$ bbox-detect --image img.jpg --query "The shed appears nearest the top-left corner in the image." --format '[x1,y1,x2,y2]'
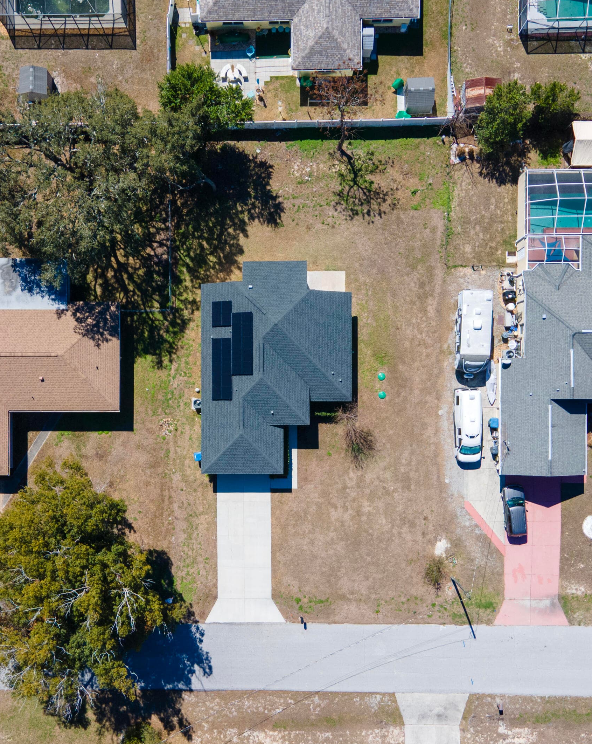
[19,64,51,100]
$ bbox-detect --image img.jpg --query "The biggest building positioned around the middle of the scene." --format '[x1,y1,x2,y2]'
[200,261,353,475]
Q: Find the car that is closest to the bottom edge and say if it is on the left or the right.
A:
right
